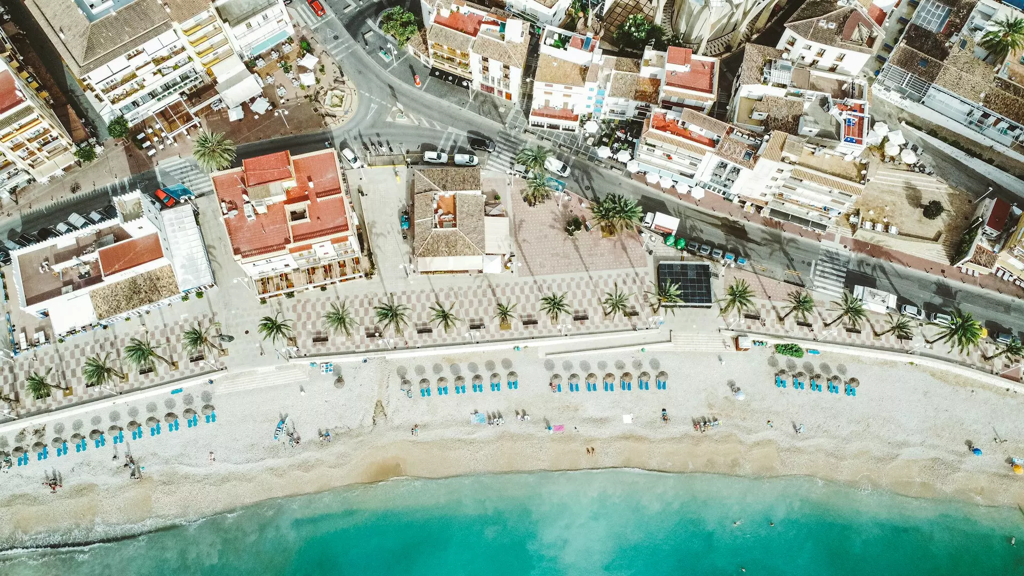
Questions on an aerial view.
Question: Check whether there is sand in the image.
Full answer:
Yes, some sand is visible.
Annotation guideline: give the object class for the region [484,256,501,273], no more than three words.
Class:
umbrella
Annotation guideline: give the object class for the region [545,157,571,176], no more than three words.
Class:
car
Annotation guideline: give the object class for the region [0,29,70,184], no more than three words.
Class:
building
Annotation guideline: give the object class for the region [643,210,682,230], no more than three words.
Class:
vehicle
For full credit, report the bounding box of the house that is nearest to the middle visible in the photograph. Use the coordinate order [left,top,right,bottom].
[414,167,486,260]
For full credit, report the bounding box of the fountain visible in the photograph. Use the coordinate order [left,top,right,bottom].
[324,89,347,111]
